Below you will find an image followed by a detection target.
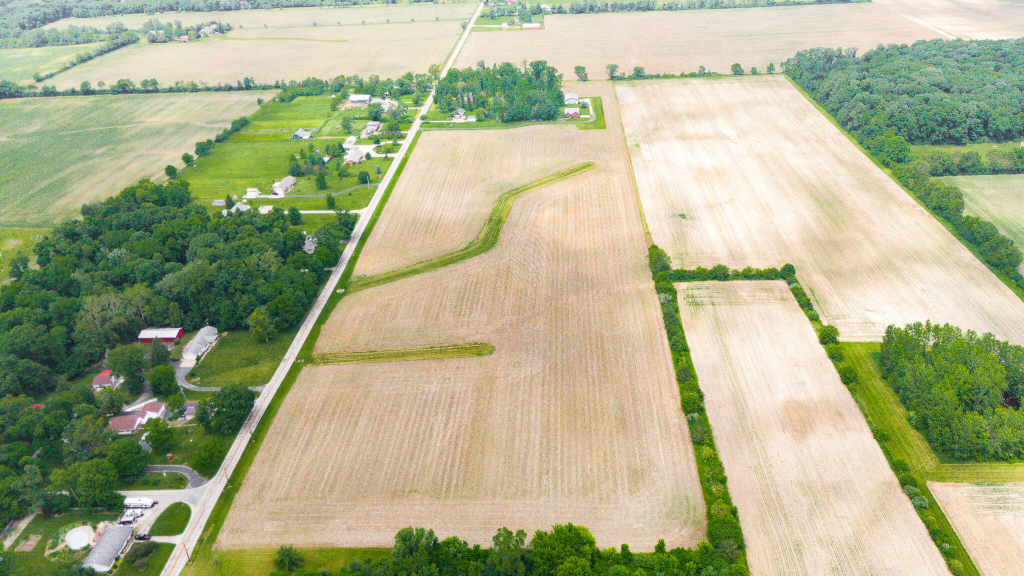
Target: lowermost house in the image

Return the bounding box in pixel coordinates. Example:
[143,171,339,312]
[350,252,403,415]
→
[80,524,134,572]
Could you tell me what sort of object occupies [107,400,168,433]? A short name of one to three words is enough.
house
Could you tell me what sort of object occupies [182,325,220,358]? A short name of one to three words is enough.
house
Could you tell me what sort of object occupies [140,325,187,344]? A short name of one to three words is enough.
barn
